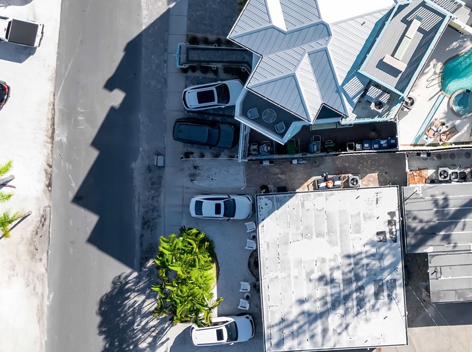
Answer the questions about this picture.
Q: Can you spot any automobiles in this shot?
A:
Yes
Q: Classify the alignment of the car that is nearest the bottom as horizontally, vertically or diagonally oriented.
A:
horizontally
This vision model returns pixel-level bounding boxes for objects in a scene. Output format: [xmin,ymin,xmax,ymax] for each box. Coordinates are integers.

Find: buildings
[257,185,407,352]
[227,0,472,145]
[404,181,472,303]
